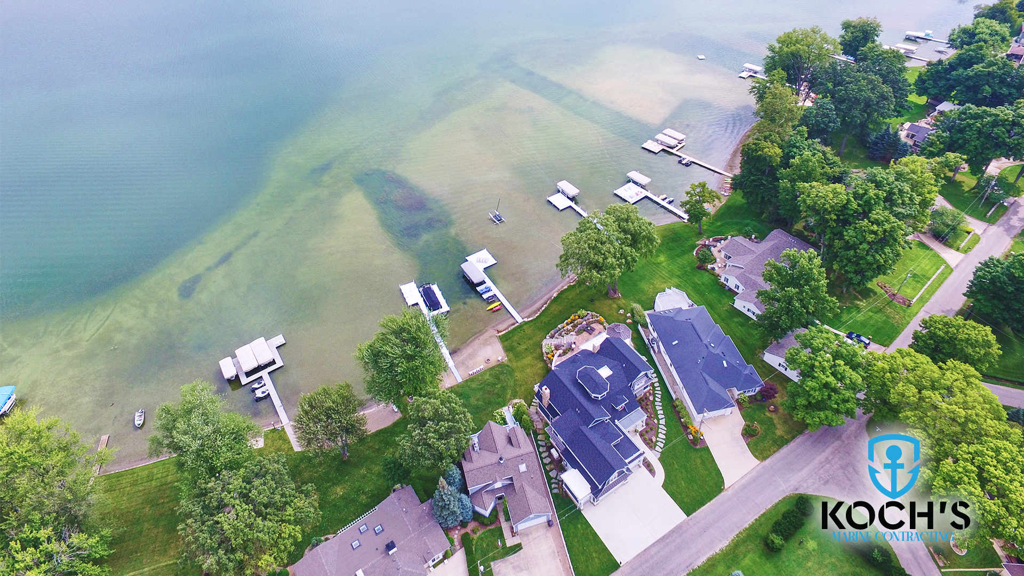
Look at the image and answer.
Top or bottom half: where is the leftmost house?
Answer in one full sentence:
The bottom half of the photo is where the leftmost house is.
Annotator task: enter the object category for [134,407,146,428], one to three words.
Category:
boat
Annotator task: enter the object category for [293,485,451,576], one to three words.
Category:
house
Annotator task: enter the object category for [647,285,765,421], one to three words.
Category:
house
